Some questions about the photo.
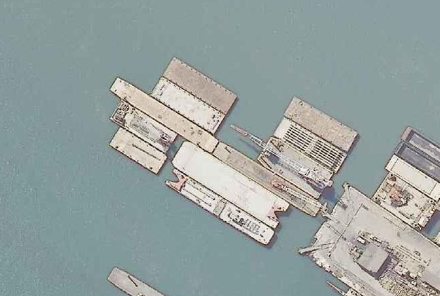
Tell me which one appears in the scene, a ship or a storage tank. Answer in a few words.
ship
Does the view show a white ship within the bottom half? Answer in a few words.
Yes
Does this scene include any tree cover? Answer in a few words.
No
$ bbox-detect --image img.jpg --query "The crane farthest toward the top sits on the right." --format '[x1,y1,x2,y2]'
[231,123,333,191]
